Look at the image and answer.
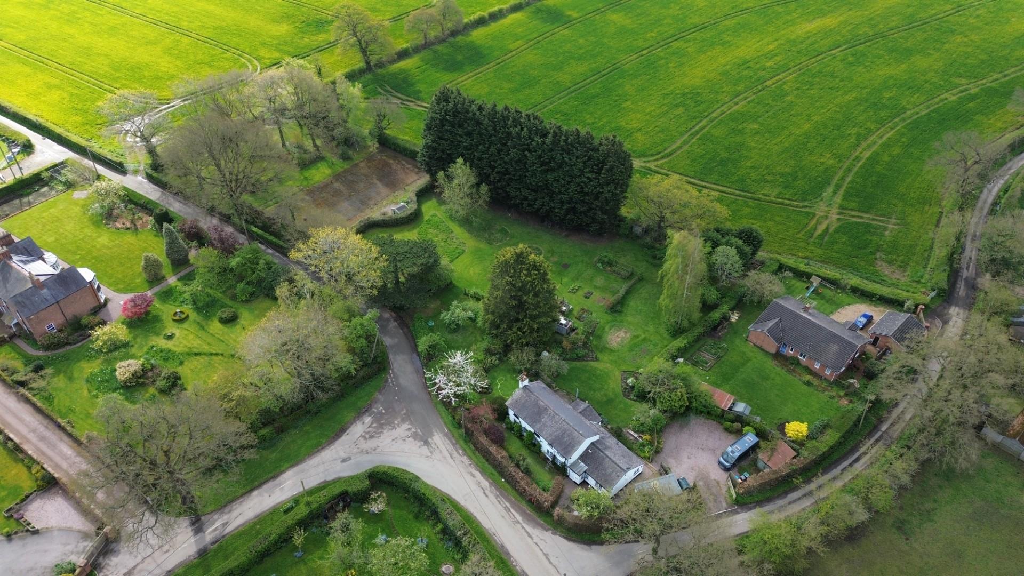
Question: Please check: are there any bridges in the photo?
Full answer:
No, no bridge can be seen from above.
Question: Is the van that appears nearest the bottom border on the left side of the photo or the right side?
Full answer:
The van that appears nearest the bottom border appears in the right half of the scene.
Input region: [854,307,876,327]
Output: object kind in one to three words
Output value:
car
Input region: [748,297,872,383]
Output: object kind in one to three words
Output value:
house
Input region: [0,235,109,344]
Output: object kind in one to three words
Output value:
house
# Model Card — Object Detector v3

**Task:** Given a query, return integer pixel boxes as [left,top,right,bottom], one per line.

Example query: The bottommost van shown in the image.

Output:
[718,426,765,466]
